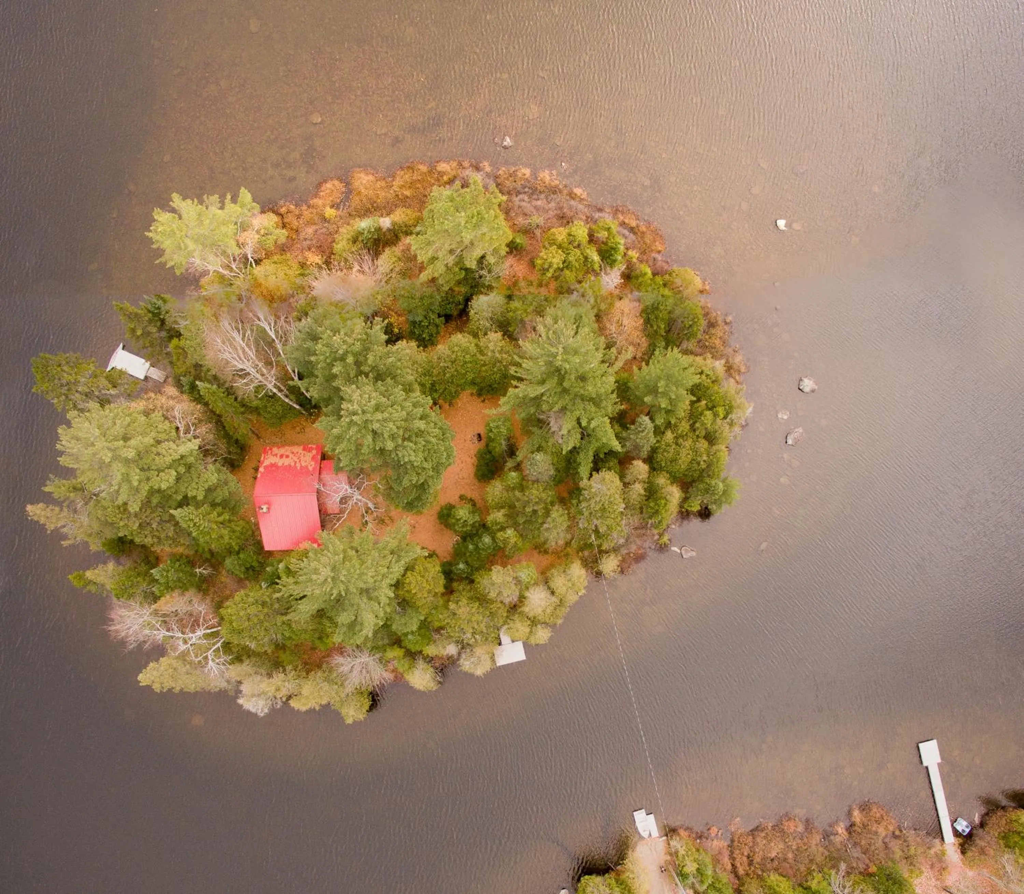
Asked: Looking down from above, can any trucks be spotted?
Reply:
No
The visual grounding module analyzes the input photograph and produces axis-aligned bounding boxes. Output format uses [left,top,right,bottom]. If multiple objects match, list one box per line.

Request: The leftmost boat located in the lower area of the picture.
[633,808,650,841]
